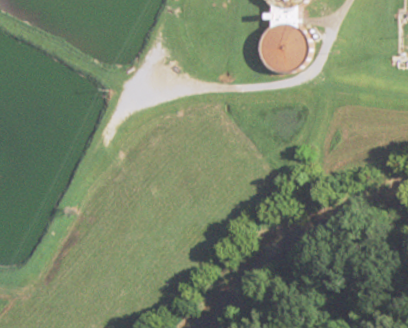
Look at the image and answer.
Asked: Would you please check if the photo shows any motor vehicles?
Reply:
No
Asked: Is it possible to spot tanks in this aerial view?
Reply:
Yes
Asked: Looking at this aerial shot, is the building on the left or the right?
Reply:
right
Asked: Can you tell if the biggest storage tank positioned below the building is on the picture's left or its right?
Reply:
right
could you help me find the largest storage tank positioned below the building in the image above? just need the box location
[259,23,314,75]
